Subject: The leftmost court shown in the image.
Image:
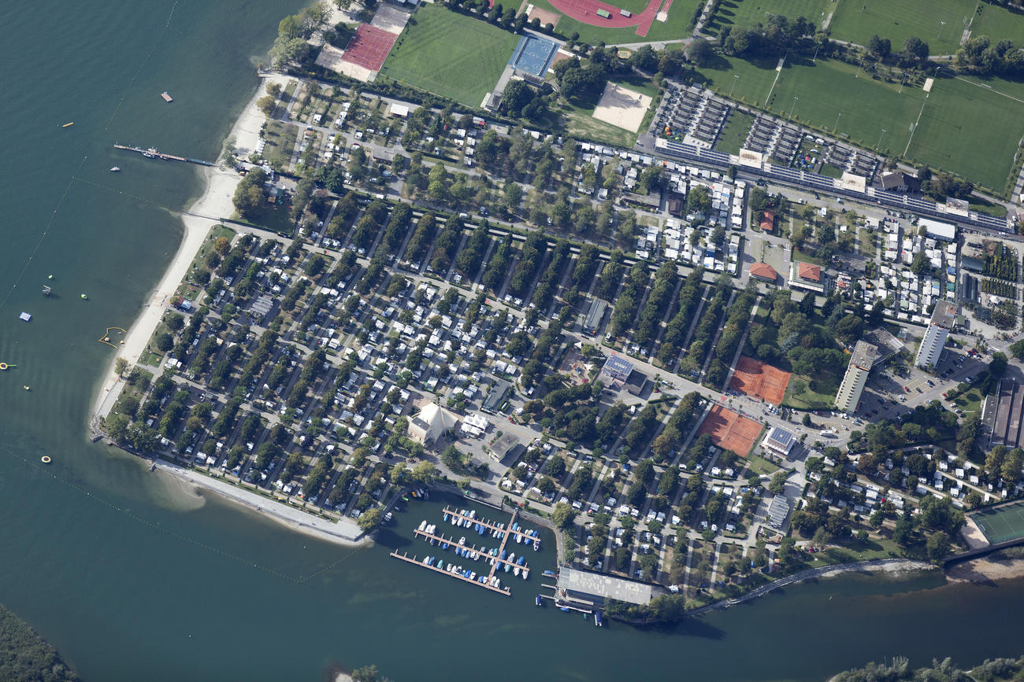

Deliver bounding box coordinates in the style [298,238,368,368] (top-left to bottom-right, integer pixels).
[342,23,398,71]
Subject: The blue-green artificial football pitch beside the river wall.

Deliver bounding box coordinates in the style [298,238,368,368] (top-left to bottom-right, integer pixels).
[971,502,1024,544]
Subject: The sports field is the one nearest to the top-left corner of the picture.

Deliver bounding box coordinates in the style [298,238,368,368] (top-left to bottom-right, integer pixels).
[380,2,513,108]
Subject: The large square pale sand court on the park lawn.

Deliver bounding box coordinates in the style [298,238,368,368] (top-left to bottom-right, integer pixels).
[593,82,652,132]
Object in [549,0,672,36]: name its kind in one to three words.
running track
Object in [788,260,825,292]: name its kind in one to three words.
house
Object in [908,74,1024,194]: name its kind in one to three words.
sports field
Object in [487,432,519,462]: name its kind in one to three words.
building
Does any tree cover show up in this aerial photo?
Yes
